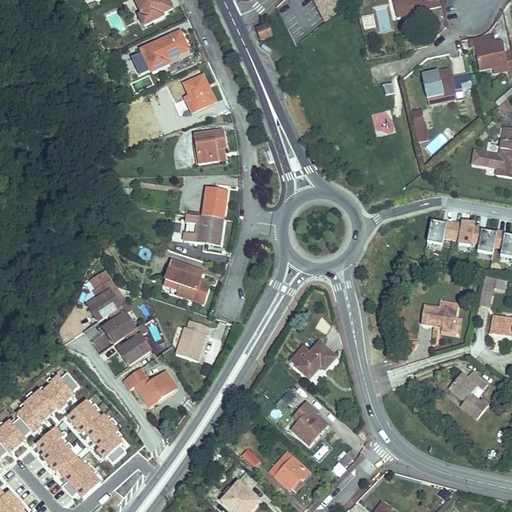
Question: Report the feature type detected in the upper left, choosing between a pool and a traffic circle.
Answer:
pool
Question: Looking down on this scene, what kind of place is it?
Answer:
residential area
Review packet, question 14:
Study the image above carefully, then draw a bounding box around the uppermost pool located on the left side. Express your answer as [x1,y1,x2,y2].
[104,8,128,34]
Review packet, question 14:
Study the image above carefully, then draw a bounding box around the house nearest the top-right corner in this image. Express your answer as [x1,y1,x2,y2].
[469,34,512,80]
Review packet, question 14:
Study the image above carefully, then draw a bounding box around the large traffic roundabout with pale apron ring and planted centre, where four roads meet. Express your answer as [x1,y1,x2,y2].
[275,186,366,276]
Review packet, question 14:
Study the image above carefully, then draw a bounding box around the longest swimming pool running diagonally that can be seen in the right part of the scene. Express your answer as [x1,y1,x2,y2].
[424,133,448,156]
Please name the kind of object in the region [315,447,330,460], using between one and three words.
vehicle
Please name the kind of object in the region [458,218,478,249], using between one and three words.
house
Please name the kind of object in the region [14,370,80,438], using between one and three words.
building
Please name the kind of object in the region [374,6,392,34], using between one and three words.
swimming pool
